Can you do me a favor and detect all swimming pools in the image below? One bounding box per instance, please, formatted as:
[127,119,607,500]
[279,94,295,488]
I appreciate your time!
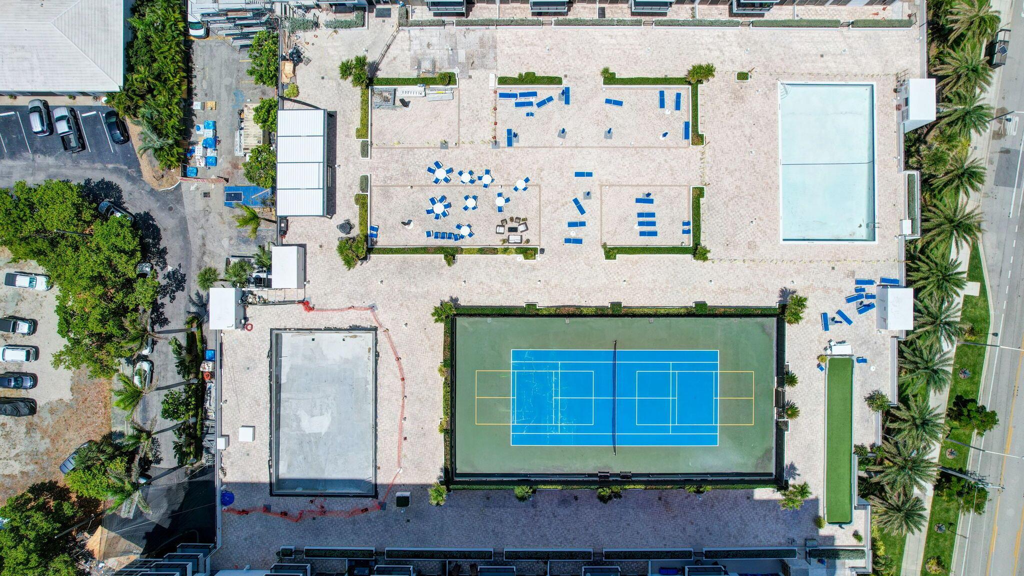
[778,76,881,245]
[268,324,380,499]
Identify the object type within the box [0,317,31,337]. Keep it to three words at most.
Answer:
vehicle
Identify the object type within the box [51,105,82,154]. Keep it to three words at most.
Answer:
truck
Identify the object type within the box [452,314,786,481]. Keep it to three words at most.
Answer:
tennis court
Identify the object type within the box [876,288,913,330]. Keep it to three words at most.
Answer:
shed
